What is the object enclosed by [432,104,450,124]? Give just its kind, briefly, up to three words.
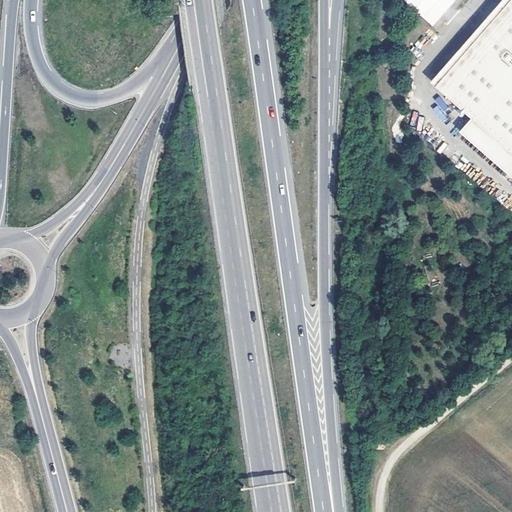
vehicle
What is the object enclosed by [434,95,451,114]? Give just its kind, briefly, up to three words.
vehicle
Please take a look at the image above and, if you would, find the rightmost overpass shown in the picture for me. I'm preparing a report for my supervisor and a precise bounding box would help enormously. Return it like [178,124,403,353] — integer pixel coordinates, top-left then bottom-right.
[174,0,232,132]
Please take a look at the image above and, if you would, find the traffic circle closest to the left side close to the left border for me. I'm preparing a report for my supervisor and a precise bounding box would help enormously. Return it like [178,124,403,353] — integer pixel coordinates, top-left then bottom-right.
[0,229,55,328]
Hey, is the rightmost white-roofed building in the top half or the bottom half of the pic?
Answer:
top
